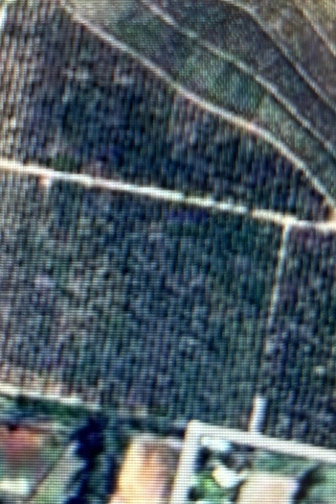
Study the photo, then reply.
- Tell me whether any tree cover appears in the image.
Yes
